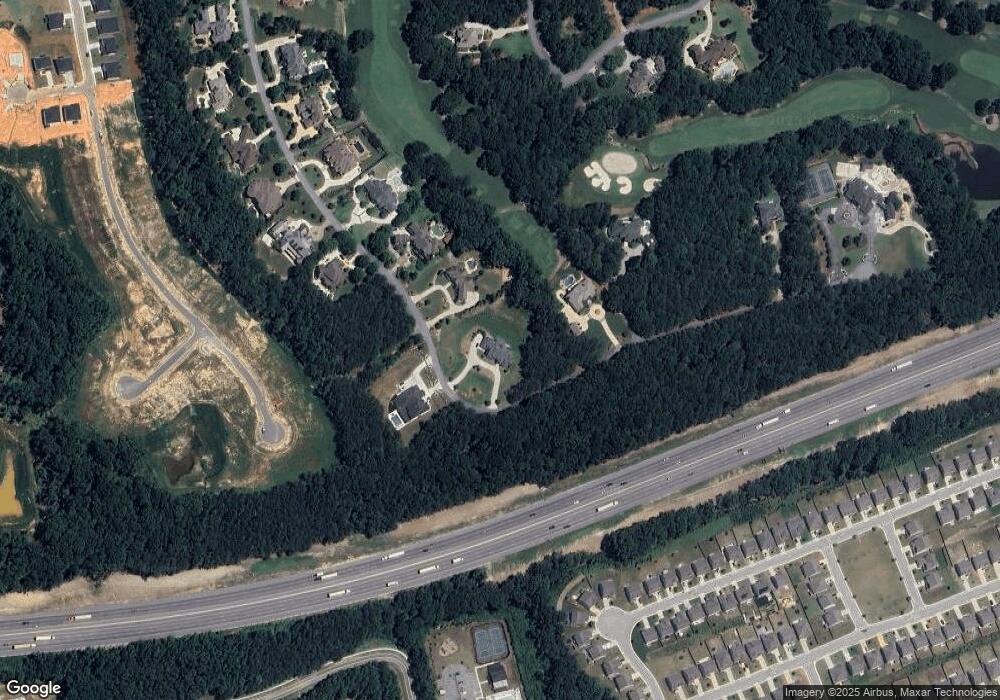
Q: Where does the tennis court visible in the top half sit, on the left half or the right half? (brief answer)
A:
right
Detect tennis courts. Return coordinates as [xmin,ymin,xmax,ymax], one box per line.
[806,163,838,201]
[473,622,510,663]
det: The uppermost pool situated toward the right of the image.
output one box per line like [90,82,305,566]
[720,62,734,78]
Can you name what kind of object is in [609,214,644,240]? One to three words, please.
house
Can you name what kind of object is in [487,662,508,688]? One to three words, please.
building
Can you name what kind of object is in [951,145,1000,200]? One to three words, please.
pond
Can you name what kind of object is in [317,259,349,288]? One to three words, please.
house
